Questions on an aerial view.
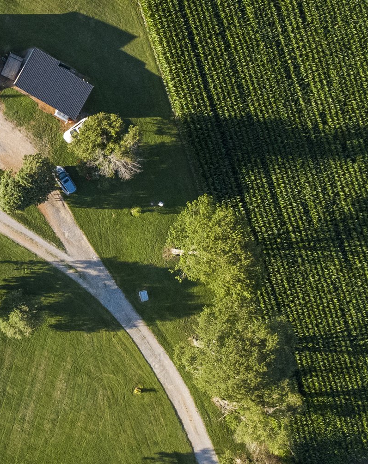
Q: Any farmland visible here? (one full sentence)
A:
Yes, there's farmland in this view.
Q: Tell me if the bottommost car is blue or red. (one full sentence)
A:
The bottommost car is blue.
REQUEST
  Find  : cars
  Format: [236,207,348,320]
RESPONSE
[62,110,94,141]
[54,165,80,199]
